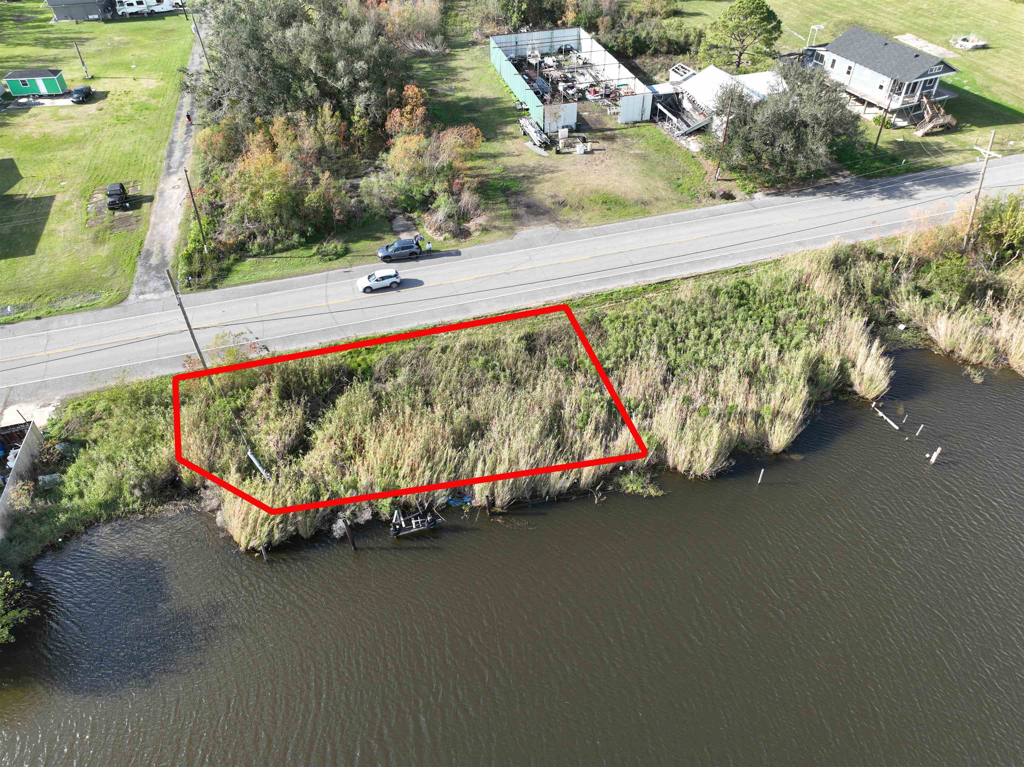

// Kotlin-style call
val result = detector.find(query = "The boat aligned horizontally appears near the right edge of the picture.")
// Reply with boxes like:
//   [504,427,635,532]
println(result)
[951,32,991,49]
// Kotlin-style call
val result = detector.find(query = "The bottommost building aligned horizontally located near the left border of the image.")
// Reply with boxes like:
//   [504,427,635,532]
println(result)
[0,68,72,100]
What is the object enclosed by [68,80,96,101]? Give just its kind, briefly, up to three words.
car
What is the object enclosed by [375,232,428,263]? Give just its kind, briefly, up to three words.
car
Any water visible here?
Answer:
Yes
